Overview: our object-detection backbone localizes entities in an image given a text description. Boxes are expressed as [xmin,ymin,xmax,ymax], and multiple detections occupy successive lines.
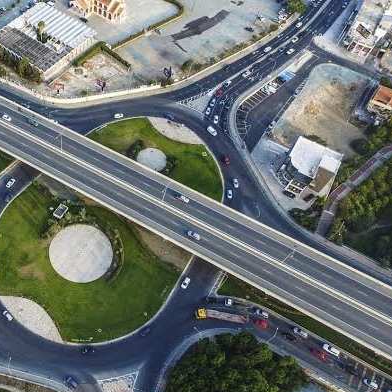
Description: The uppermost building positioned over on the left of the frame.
[74,0,133,30]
